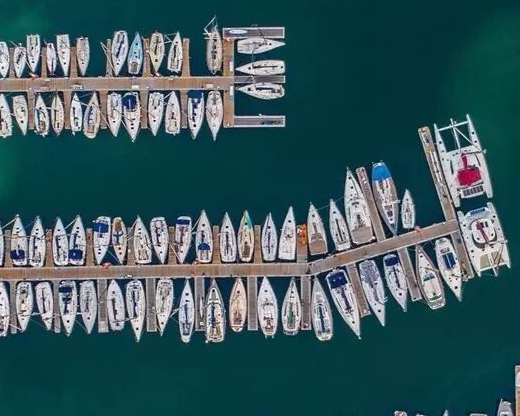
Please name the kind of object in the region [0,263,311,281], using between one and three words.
pier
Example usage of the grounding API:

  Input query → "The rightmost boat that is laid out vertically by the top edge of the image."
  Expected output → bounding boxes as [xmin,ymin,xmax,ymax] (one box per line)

[205,19,223,72]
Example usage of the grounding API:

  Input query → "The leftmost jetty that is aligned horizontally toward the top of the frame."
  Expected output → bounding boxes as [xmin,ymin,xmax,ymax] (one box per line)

[0,77,234,92]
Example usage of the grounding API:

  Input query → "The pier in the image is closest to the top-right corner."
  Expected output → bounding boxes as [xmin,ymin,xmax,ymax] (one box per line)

[418,126,455,222]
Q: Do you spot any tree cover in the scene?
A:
No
